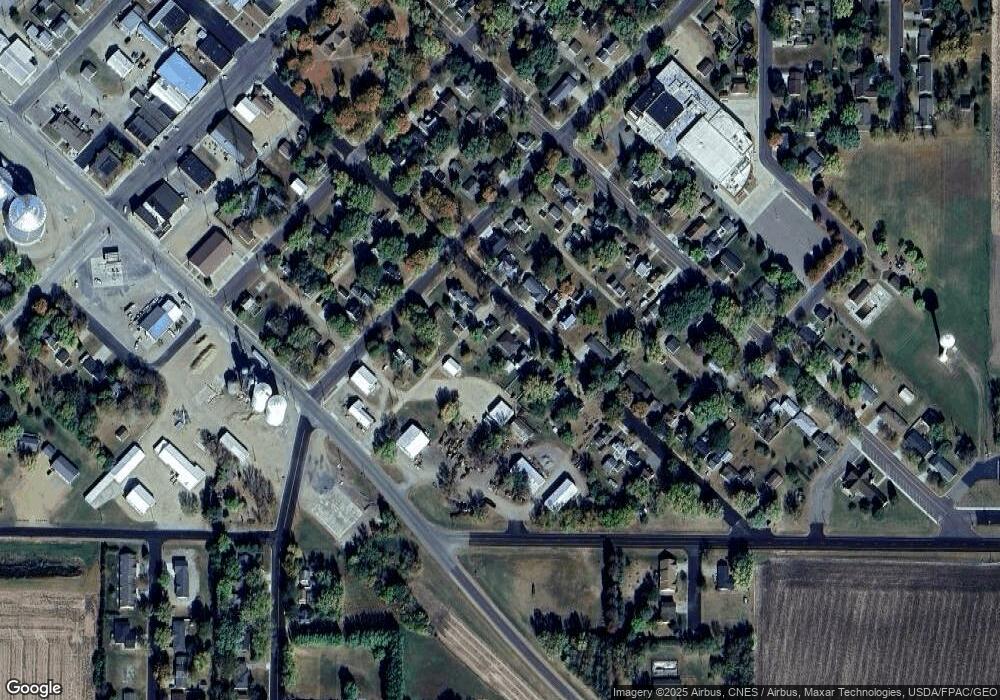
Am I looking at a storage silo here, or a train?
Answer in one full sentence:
There is a storage silo in the scene.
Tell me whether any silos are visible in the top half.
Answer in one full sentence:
Yes, there is a silo in the top half.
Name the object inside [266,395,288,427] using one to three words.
silo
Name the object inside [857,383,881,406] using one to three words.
house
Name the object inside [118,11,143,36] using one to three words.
building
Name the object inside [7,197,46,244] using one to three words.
silo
